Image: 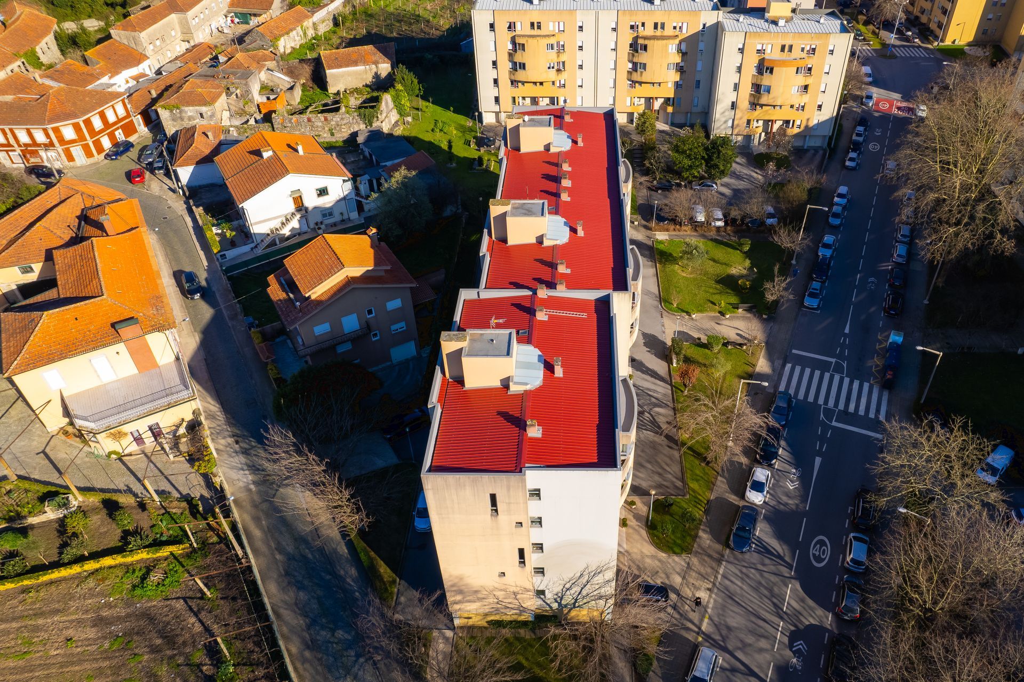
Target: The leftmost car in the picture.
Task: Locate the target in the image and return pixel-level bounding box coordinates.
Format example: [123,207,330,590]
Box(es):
[30,166,60,179]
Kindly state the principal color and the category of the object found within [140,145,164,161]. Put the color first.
gray car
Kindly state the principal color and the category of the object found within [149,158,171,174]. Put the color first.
black car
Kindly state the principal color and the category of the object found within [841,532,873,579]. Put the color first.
blue car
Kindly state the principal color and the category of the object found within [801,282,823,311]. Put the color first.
blue car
